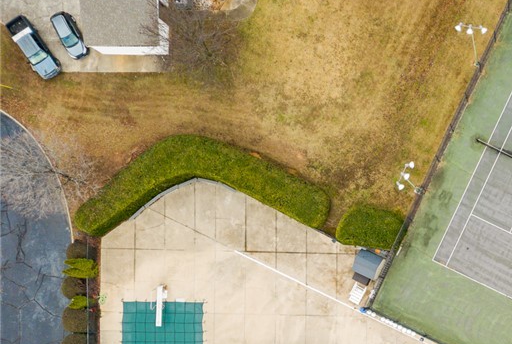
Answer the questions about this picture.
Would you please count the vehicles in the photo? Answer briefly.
two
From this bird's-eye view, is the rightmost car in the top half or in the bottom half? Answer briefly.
top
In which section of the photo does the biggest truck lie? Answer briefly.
top left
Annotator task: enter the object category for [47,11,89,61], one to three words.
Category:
car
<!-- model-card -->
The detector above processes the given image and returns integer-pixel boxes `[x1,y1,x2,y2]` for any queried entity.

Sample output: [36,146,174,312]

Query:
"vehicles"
[47,11,89,61]
[4,14,62,81]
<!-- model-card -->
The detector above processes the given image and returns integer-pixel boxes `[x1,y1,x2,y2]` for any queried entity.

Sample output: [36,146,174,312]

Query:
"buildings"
[347,249,383,281]
[80,0,172,56]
